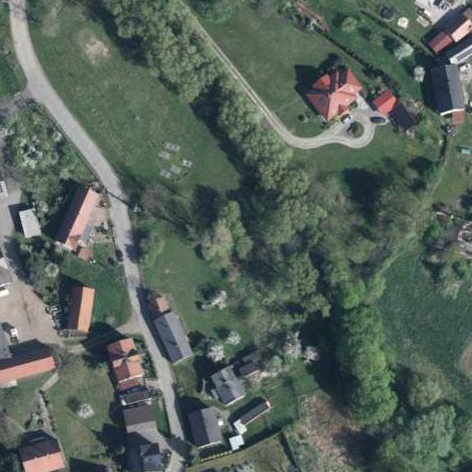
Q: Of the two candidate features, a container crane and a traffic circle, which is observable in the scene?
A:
traffic circle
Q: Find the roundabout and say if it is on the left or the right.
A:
right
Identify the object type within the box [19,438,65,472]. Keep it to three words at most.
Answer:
house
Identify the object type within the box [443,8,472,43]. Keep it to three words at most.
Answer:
barn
